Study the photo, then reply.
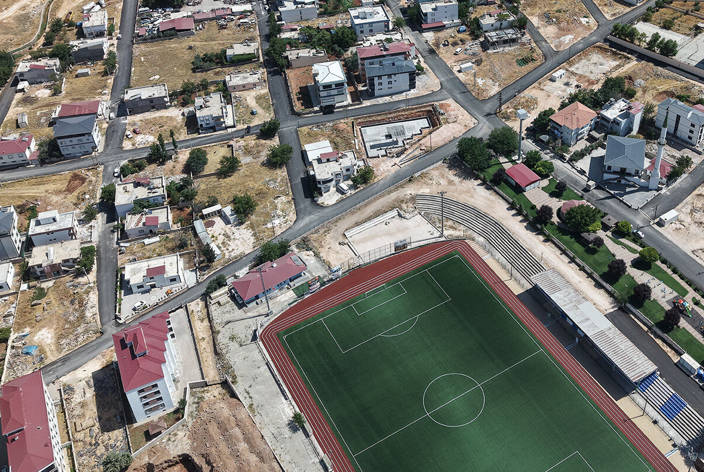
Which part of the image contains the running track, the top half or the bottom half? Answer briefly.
bottom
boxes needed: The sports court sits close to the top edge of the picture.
[635,21,689,45]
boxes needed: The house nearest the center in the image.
[308,151,359,193]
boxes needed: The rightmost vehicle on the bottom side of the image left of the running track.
[232,295,245,310]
